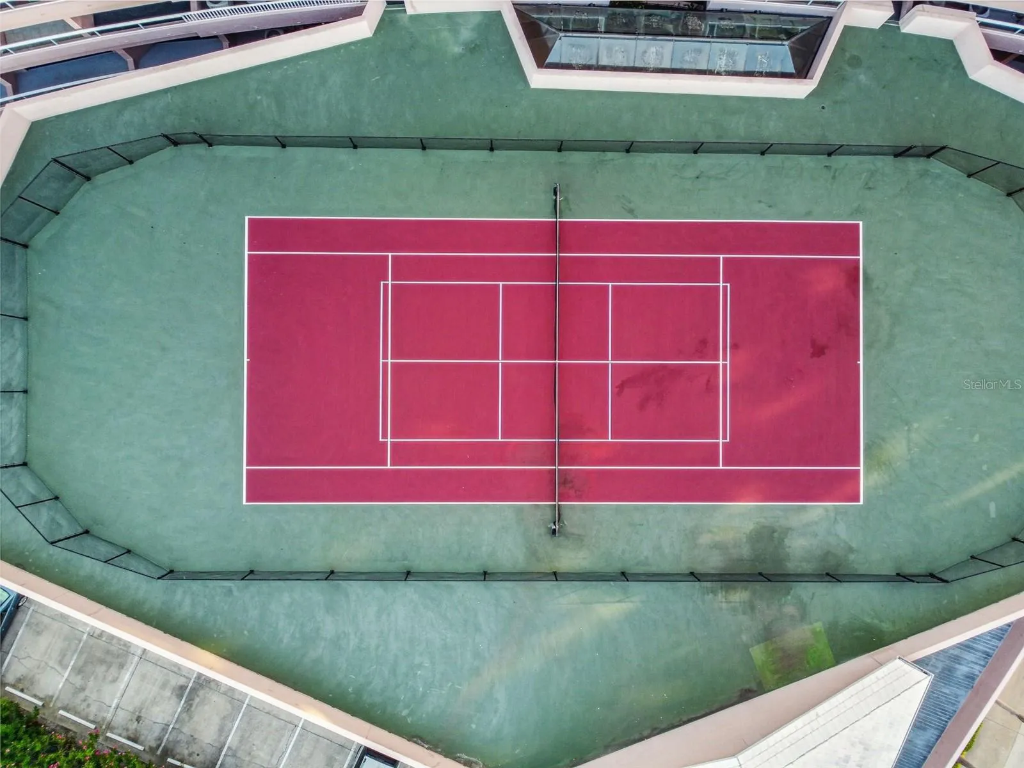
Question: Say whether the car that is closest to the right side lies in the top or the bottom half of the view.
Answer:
bottom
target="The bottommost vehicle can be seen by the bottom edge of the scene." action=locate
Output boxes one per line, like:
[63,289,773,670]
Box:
[353,748,400,768]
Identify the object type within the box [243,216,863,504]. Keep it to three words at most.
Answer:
tennis court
